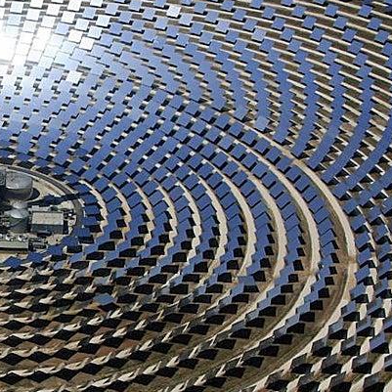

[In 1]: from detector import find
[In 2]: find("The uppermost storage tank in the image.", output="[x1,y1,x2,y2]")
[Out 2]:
[2,171,33,201]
